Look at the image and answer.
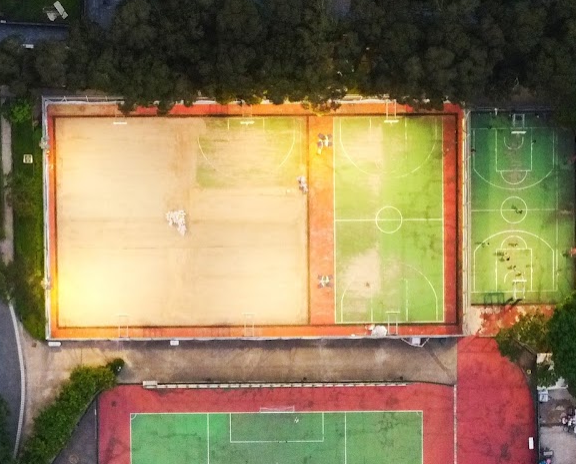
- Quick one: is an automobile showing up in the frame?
No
